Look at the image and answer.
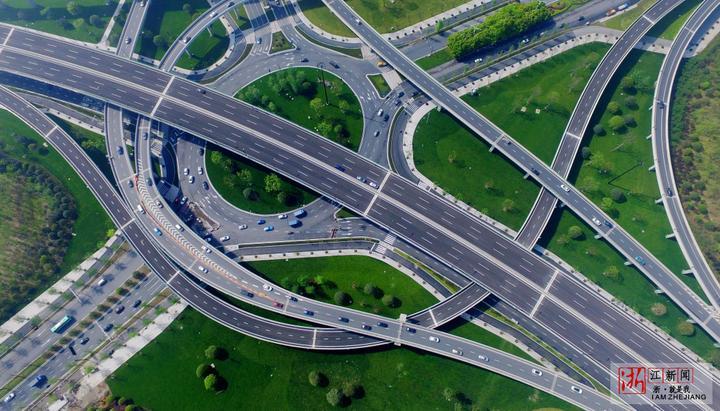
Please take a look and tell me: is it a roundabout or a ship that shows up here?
roundabout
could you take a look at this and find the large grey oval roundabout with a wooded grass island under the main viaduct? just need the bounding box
[173,25,412,251]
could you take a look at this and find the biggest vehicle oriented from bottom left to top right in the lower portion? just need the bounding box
[48,314,72,333]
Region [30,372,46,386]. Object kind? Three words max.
vehicle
